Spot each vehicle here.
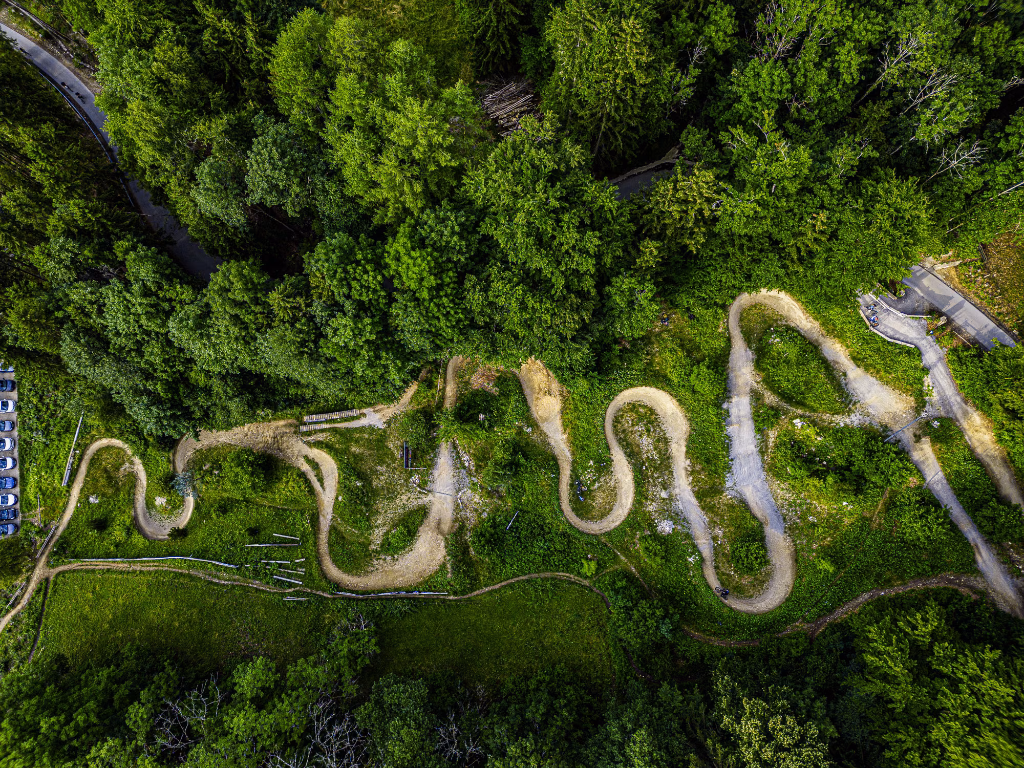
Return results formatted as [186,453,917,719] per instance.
[0,493,17,508]
[0,419,13,432]
[0,524,17,538]
[0,438,13,451]
[0,360,14,375]
[0,378,15,393]
[0,457,14,472]
[0,476,15,492]
[0,399,14,414]
[0,508,17,523]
